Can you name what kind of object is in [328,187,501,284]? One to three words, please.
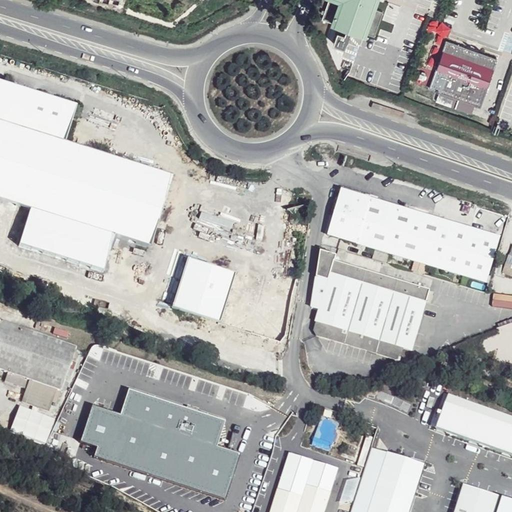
building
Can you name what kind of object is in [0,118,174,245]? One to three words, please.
warehouse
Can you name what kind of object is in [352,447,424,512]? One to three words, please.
building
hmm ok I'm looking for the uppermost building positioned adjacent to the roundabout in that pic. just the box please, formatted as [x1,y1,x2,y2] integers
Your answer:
[324,0,378,54]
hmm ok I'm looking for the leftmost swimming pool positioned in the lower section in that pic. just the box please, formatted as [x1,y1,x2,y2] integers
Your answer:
[311,417,340,451]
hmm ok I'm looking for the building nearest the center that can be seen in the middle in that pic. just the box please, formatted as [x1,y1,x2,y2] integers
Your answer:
[173,256,234,321]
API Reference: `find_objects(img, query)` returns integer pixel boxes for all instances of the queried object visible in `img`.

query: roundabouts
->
[186,26,321,160]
